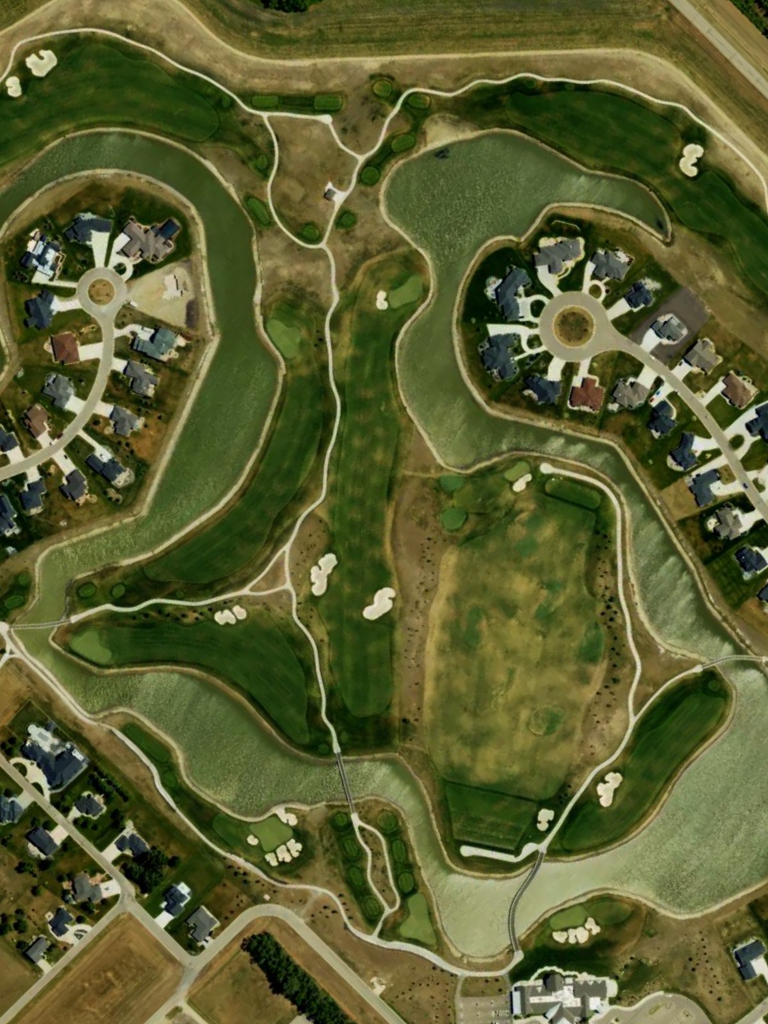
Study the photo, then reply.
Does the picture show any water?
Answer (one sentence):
Yes, there is water in the image.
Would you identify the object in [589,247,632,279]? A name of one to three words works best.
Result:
house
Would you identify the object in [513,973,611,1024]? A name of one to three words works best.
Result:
building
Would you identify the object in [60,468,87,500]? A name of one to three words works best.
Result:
house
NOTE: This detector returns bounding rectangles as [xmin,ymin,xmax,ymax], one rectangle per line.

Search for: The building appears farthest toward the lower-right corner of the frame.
[734,938,767,981]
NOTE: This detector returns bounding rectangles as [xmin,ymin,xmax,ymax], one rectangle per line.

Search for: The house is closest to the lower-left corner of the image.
[25,937,51,964]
